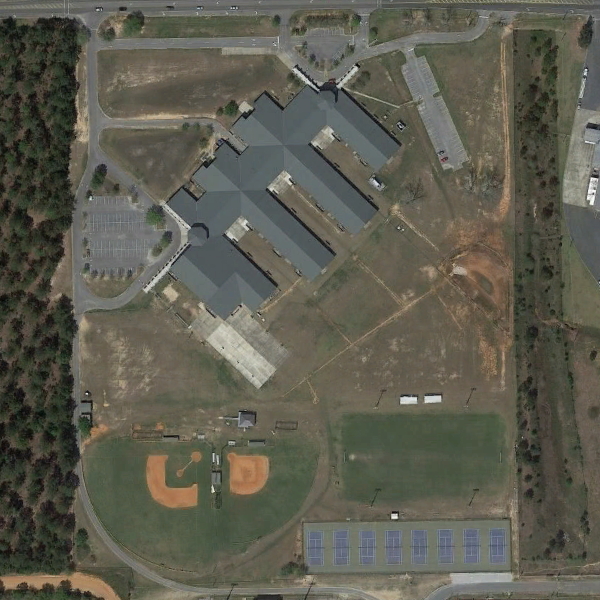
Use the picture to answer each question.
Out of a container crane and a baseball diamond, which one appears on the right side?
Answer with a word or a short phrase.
baseball diamond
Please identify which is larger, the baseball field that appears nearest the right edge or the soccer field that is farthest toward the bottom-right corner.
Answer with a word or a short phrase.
the soccer field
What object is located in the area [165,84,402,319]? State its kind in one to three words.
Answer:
building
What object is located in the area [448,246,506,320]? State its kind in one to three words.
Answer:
baseball field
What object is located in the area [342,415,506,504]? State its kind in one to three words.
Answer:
soccer field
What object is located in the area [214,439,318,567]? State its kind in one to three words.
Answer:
baseball field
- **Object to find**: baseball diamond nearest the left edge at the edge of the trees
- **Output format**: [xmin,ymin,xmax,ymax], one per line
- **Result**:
[84,438,214,572]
